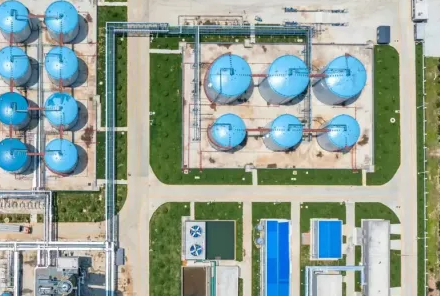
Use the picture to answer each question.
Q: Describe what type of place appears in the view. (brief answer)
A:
industrial area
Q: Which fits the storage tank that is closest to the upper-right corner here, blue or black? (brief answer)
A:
blue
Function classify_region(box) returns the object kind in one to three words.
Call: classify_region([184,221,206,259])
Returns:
cooling tower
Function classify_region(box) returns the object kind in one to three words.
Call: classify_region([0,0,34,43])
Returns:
storage tank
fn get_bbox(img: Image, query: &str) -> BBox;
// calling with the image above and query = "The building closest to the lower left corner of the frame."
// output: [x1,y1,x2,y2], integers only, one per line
[56,255,81,270]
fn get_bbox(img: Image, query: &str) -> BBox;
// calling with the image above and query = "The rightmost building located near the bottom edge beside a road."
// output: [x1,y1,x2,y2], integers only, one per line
[360,219,390,296]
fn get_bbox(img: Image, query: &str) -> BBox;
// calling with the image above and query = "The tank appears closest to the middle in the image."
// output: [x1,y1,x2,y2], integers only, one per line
[206,114,245,152]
